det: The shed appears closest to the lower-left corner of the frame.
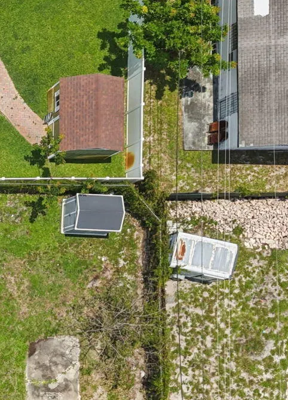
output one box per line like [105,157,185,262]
[61,192,125,233]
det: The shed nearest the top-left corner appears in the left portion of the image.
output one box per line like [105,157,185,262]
[47,74,123,161]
